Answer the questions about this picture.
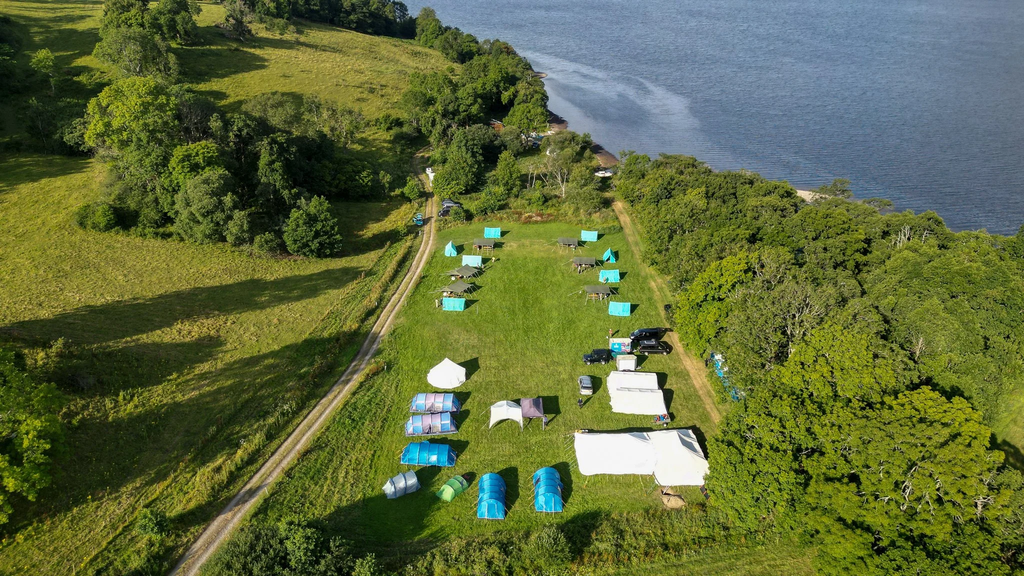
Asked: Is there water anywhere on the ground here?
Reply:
Yes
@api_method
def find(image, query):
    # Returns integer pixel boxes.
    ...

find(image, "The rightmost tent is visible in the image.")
[647,430,710,497]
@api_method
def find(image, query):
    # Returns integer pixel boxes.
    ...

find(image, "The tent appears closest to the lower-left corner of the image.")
[378,466,422,499]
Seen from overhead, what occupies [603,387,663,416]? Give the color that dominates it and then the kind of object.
white tent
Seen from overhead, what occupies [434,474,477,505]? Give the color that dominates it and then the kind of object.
green tent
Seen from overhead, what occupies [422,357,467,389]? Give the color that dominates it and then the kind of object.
white tent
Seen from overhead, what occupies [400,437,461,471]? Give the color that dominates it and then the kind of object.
blue tent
